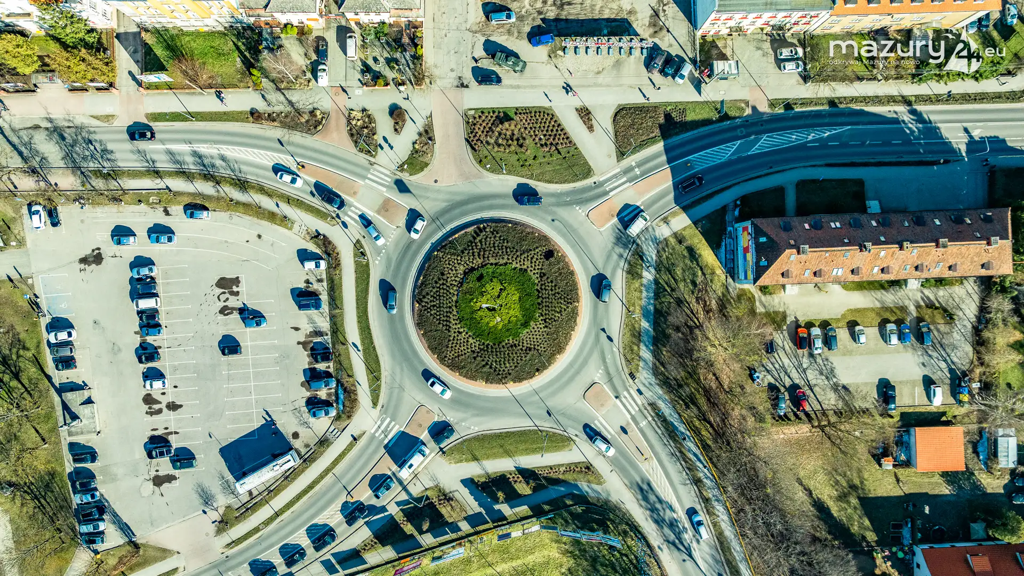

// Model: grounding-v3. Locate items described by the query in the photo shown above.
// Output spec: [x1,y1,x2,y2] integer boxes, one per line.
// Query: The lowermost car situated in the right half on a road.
[690,511,710,540]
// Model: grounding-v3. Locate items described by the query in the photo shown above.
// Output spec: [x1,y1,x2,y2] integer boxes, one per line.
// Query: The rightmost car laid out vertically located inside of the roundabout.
[599,280,611,304]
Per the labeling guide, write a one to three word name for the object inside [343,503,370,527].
car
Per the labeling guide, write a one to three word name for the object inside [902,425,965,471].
building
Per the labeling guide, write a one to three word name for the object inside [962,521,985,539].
gazebo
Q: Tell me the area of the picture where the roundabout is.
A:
center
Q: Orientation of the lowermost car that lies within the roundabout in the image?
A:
on a diagonal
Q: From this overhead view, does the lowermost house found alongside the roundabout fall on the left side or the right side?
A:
right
